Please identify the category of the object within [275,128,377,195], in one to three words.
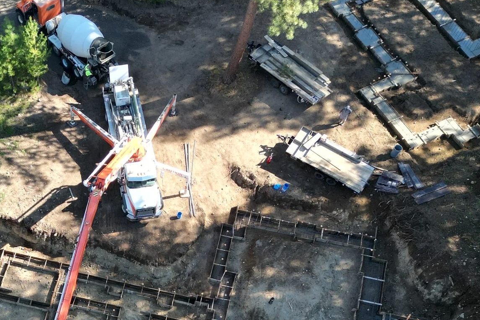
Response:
trailer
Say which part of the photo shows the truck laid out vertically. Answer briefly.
left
